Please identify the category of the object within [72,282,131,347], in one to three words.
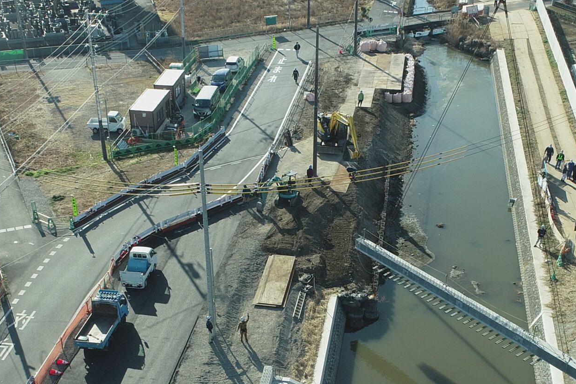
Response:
truck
